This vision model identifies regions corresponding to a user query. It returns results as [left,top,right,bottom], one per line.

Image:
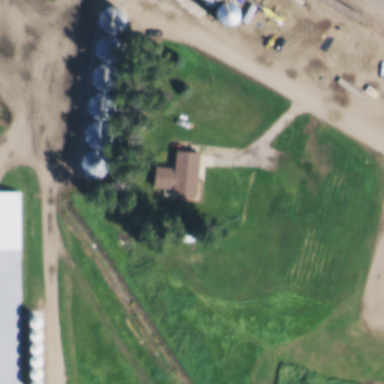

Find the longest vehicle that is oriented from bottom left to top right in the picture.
[242,4,260,26]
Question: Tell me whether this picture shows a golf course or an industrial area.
industrial area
